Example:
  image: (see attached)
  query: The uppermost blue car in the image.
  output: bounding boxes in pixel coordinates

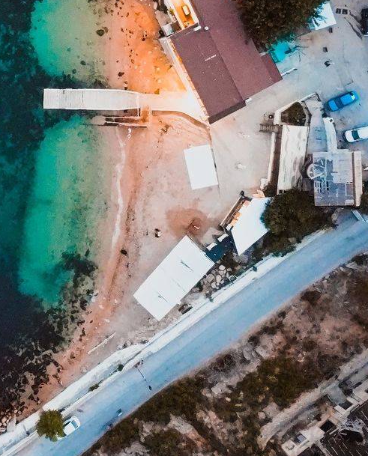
[325,90,361,113]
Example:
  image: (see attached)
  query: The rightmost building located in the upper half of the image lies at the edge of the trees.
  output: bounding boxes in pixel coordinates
[302,151,354,206]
